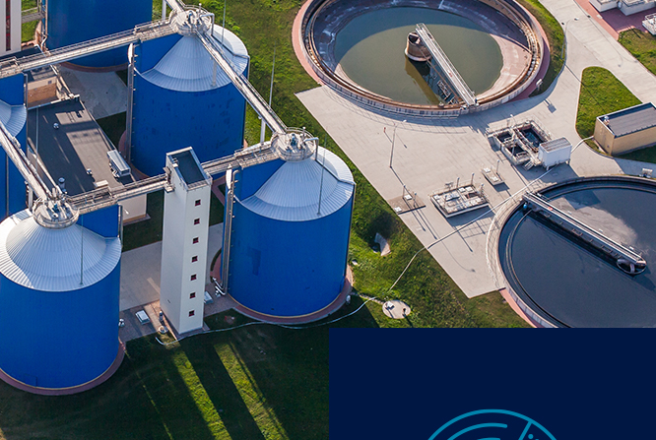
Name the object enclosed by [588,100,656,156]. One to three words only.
building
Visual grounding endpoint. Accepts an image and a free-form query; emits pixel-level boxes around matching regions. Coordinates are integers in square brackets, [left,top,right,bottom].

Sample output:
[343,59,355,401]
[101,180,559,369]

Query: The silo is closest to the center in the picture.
[216,126,357,322]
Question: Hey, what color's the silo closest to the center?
blue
